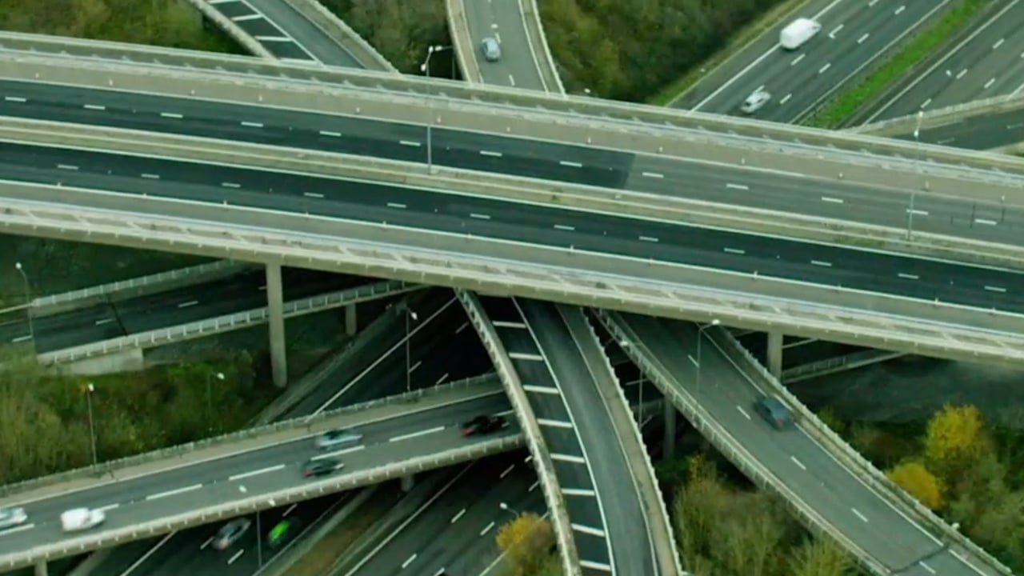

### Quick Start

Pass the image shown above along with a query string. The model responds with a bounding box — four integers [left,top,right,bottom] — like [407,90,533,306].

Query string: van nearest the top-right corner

[781,20,820,52]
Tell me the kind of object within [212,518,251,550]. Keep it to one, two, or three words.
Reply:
car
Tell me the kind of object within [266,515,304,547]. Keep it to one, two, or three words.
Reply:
car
